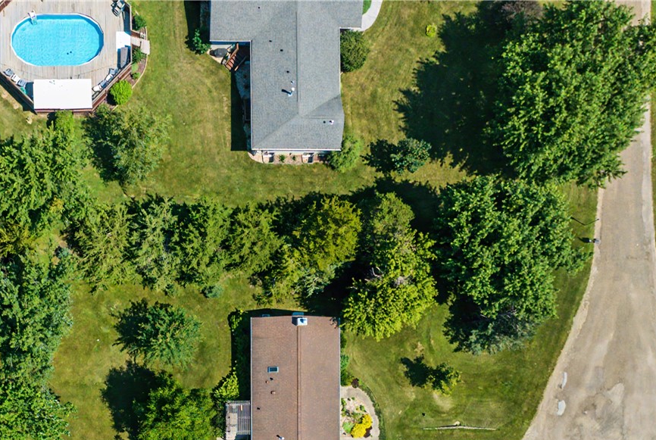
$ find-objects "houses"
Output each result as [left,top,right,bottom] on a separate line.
[210,0,366,156]
[249,313,341,440]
